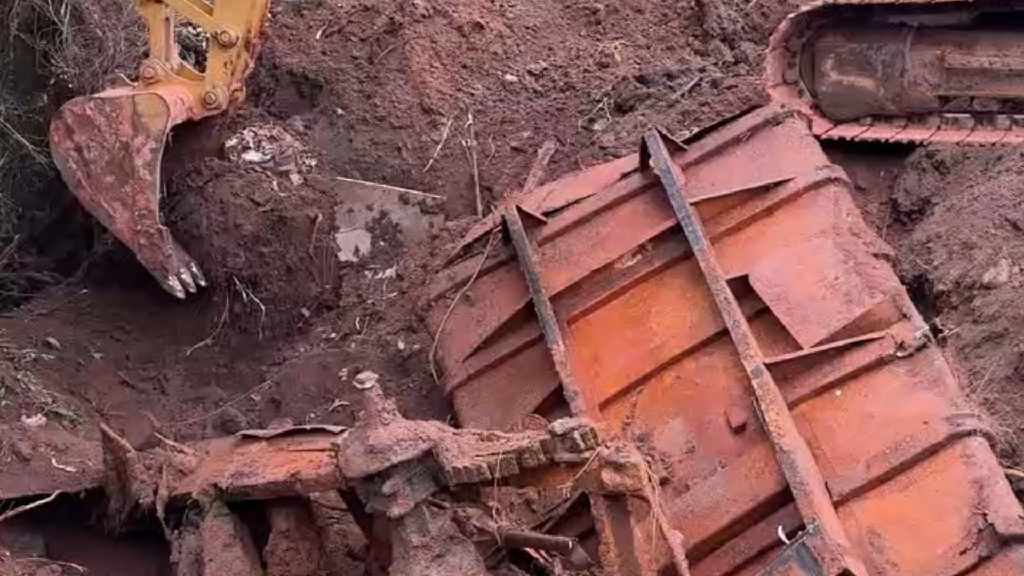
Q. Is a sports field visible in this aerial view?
No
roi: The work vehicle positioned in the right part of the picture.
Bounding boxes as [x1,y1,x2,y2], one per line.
[752,0,1024,150]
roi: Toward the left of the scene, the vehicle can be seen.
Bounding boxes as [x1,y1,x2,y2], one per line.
[48,0,290,298]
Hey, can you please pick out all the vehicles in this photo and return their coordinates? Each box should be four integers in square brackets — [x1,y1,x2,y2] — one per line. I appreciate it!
[752,0,1024,150]
[48,0,290,298]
